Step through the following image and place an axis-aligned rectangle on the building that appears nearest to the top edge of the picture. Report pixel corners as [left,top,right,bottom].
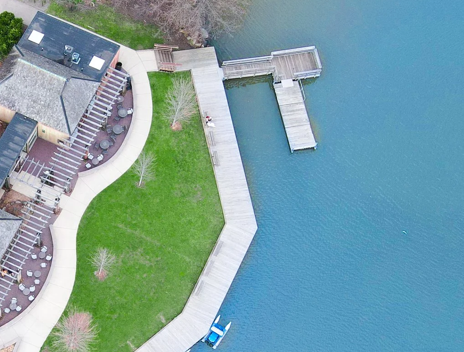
[0,12,119,149]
